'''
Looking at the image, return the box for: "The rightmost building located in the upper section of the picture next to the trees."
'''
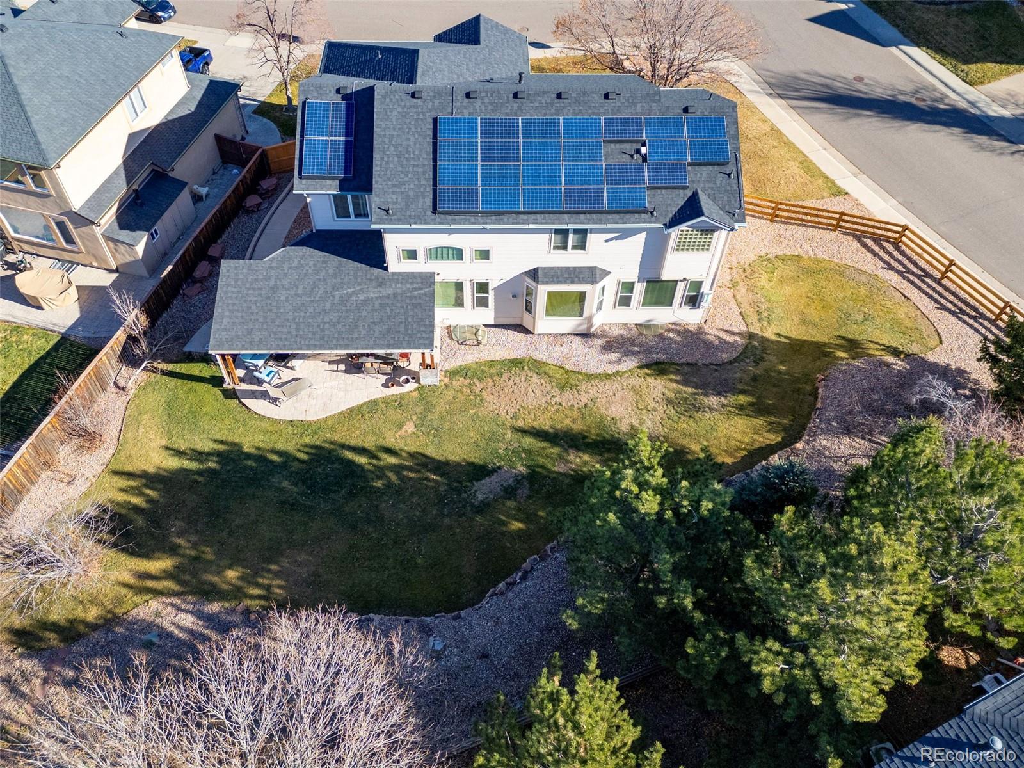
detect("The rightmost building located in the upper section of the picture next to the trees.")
[208,11,748,393]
